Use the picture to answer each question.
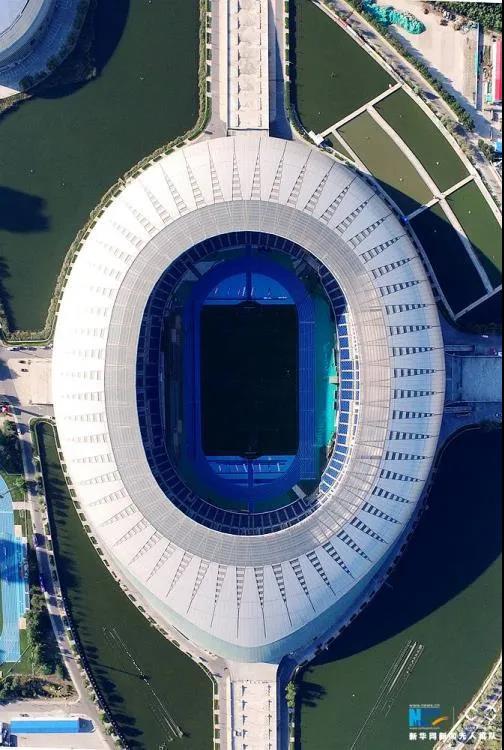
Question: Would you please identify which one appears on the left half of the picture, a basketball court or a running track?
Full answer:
What appears on the left half of the picture is a running track.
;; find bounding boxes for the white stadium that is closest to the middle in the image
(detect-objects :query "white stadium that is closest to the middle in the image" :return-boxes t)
[52,136,445,661]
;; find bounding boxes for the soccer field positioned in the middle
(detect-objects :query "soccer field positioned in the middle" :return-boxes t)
[201,300,297,461]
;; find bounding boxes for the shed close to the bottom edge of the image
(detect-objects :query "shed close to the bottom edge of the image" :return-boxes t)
[10,713,81,733]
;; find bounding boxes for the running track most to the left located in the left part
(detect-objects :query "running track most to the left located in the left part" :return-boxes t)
[0,475,26,660]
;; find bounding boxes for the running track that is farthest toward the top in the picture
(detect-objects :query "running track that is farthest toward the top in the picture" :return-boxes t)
[165,247,333,510]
